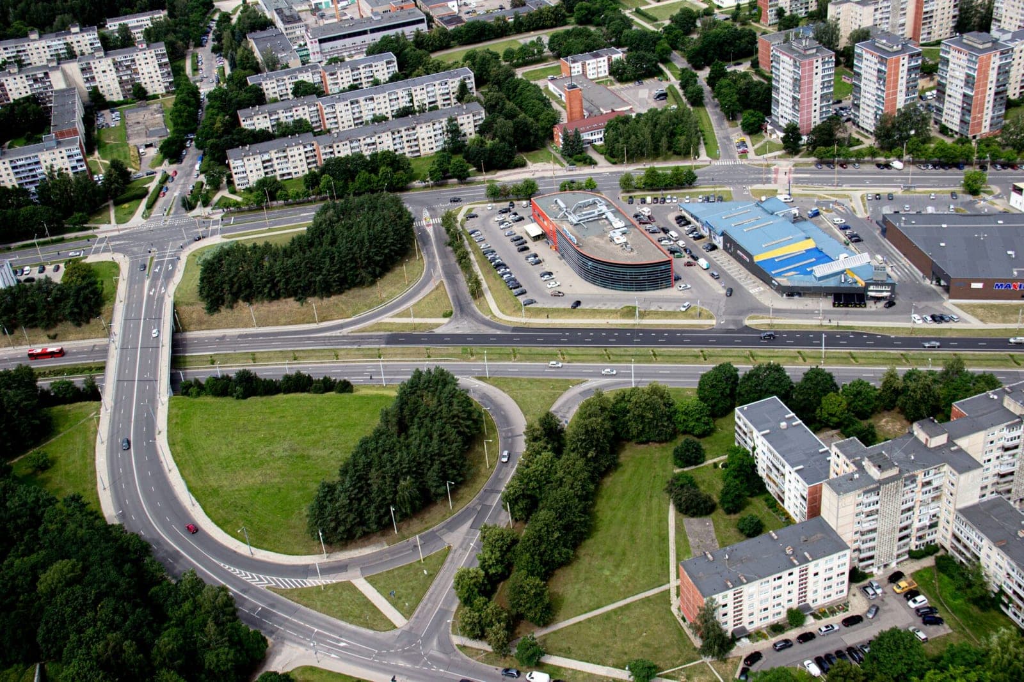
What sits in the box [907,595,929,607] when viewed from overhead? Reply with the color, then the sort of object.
white vehicle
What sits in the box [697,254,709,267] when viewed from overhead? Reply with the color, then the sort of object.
white vehicle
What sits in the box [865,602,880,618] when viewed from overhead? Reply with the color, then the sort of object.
gray car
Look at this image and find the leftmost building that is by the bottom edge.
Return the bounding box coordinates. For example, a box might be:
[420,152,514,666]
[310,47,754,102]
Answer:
[676,515,852,652]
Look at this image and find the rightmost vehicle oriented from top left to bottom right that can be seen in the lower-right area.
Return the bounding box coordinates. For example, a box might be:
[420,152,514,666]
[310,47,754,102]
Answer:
[909,623,928,640]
